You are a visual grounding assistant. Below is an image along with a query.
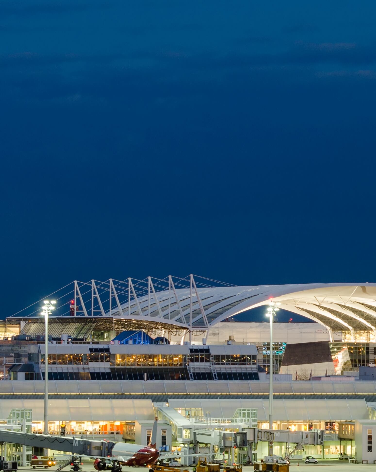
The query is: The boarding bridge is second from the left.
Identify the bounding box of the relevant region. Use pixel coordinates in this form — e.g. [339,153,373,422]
[194,431,251,466]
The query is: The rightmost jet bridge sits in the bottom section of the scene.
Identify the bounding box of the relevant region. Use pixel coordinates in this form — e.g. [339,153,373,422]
[252,424,332,465]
